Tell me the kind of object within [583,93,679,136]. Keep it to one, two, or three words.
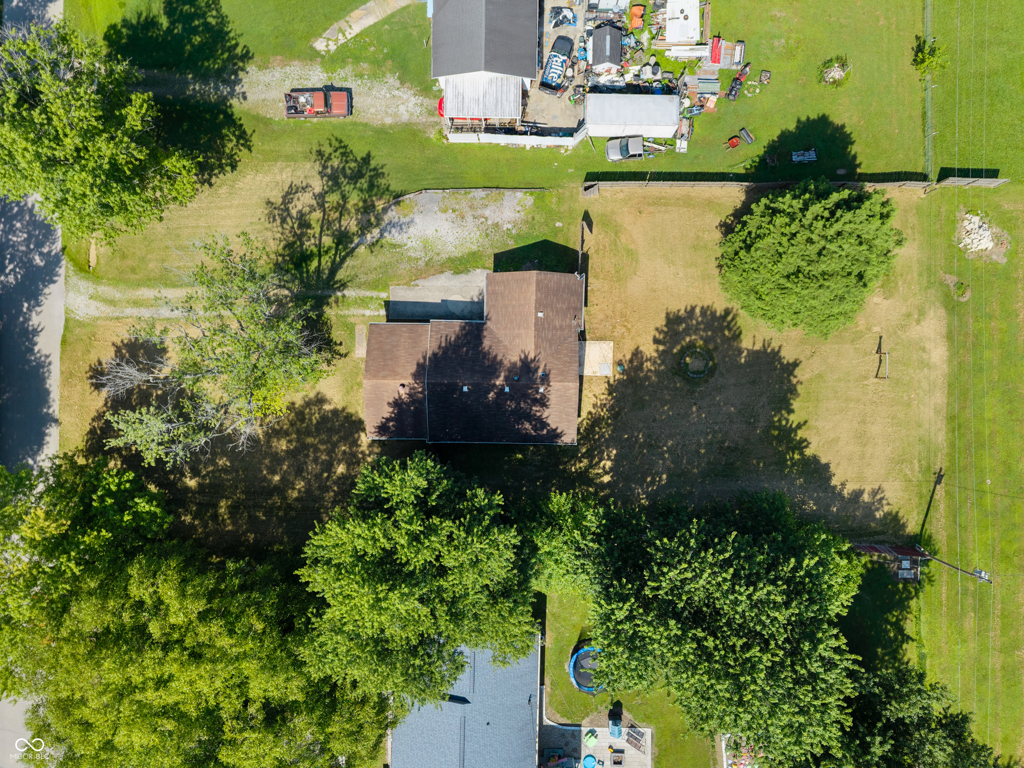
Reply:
trailer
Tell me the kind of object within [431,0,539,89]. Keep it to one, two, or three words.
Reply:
house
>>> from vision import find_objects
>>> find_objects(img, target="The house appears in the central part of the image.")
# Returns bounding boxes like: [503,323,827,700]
[364,270,586,446]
